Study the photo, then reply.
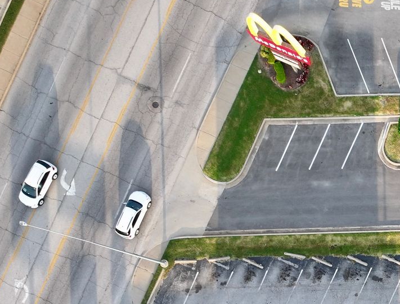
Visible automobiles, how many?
2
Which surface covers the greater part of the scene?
paved ground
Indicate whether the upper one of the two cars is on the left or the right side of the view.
left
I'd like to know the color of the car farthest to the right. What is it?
white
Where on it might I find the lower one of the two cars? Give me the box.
[116,194,150,238]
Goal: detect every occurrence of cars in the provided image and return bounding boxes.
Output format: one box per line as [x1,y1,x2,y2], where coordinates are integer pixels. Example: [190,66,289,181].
[116,194,150,238]
[20,160,58,206]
